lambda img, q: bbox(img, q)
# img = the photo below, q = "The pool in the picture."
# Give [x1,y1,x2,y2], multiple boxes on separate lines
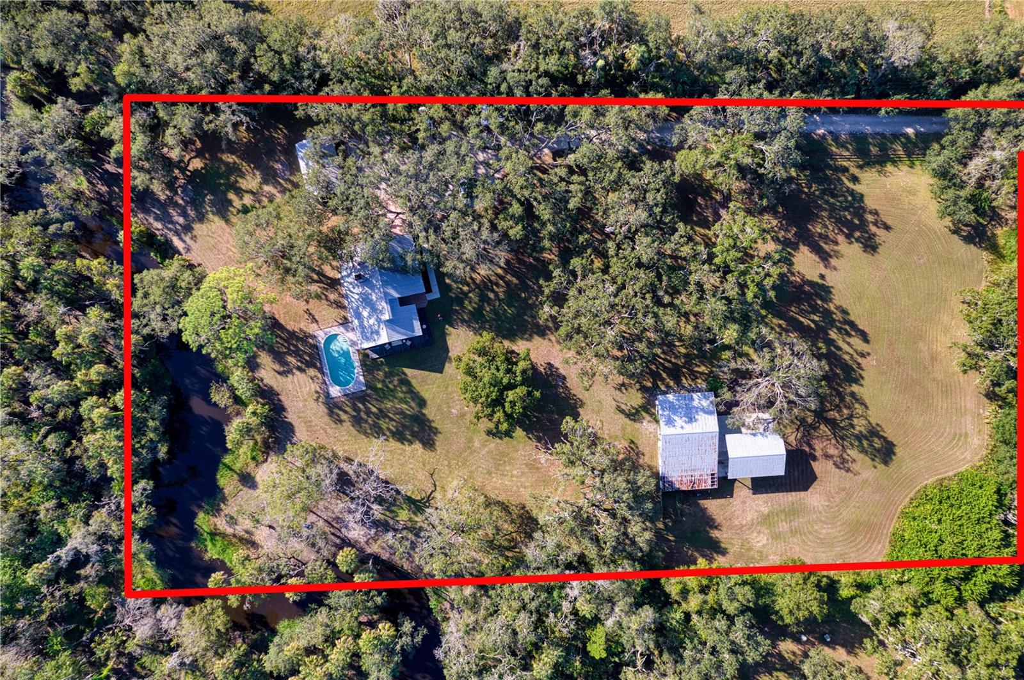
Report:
[317,332,361,389]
